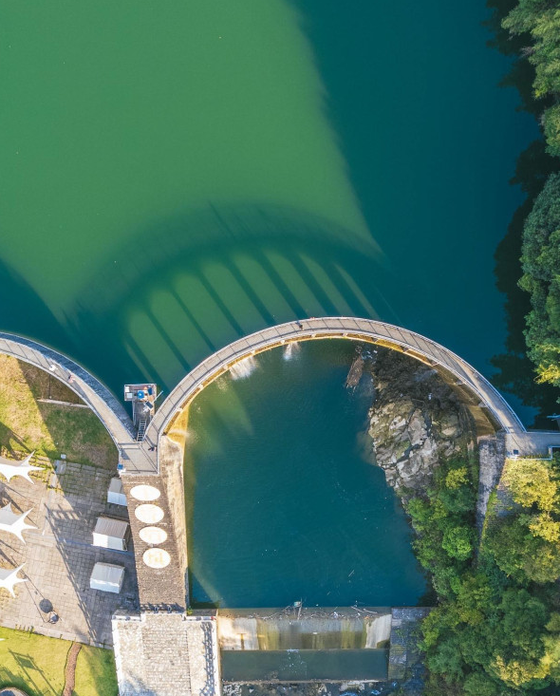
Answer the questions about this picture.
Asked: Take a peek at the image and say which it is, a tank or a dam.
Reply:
dam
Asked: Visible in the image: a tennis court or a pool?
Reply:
pool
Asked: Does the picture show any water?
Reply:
Yes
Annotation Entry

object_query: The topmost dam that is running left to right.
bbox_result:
[145,316,519,439]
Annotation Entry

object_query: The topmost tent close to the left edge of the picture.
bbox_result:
[0,448,47,485]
